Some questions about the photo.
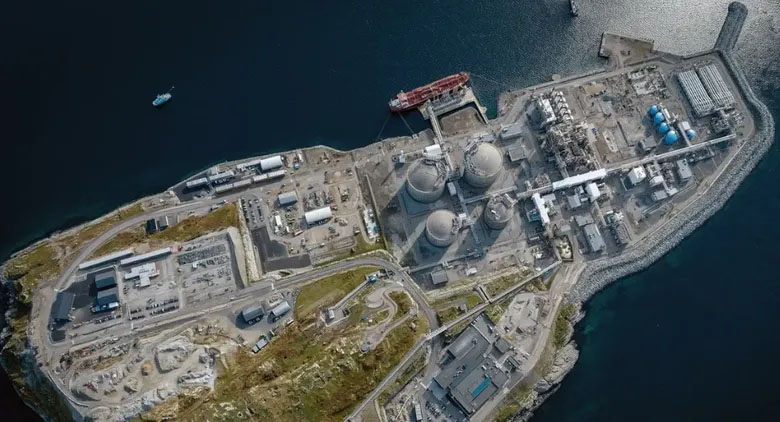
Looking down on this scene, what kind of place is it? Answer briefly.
port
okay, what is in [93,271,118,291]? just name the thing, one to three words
building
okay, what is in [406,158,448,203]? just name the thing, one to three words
storage tank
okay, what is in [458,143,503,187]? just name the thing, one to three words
storage tank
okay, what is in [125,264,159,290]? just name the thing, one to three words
building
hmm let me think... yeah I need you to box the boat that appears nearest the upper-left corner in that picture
[152,87,174,105]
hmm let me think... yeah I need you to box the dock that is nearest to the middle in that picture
[417,88,487,124]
